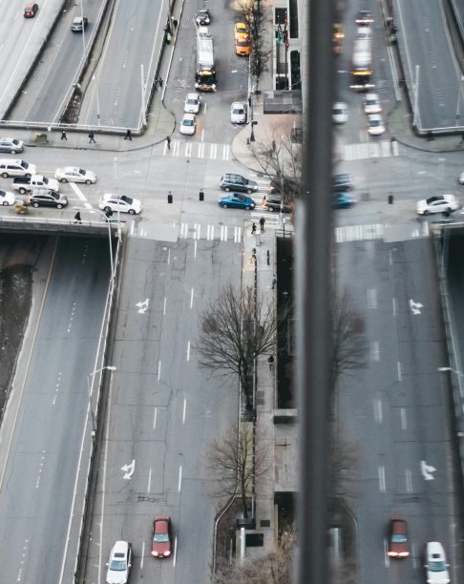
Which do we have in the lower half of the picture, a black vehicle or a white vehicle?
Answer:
white vehicle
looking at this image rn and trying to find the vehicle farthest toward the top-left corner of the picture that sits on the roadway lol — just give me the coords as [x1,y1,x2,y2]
[22,3,39,20]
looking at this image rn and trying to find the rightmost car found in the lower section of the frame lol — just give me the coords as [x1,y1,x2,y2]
[148,517,173,559]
